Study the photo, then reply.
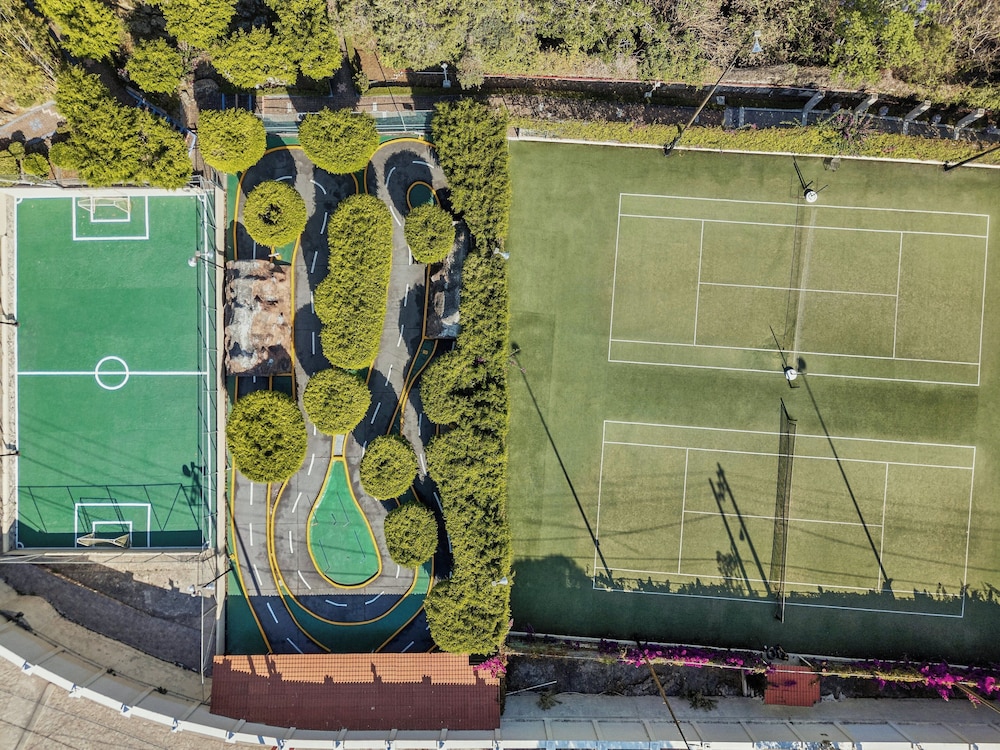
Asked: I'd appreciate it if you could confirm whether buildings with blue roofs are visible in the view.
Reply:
No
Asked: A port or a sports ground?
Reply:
sports ground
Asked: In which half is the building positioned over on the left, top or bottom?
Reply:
bottom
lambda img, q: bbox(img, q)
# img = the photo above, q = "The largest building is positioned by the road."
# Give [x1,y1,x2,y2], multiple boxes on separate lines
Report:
[201,644,500,737]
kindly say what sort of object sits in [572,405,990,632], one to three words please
tennis court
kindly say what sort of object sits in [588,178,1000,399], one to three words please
tennis court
